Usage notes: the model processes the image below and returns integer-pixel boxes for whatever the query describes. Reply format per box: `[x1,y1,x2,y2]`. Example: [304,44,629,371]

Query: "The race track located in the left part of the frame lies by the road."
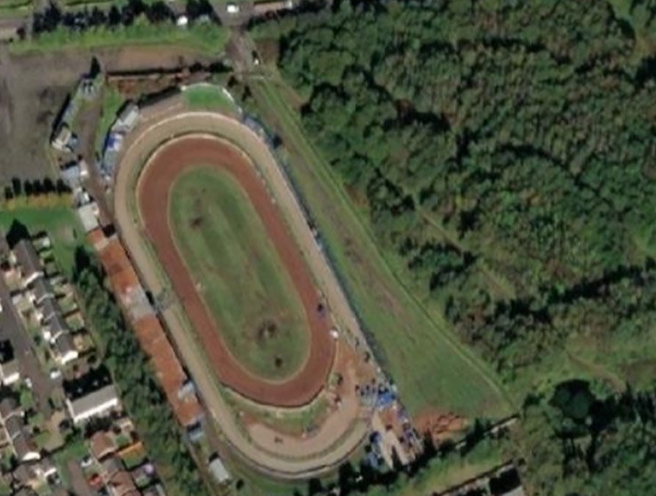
[114,110,384,474]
